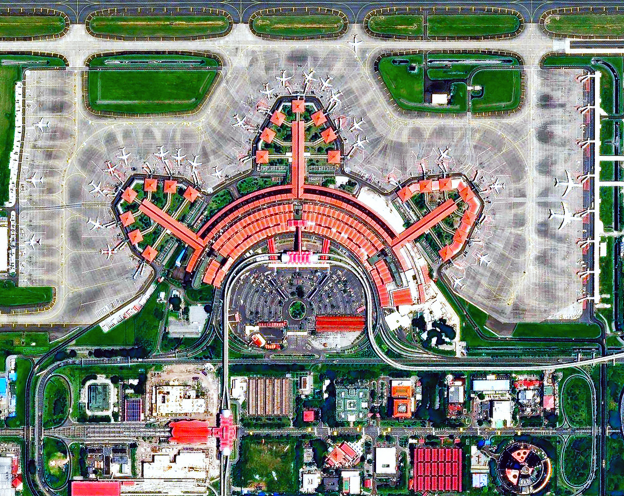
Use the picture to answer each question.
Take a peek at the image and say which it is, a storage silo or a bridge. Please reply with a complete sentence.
The one in the frame is a bridge.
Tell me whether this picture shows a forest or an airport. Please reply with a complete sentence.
The area seen from above is an airport.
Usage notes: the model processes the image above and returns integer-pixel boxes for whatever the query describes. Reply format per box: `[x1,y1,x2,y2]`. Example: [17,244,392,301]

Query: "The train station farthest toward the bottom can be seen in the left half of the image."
[212,408,236,457]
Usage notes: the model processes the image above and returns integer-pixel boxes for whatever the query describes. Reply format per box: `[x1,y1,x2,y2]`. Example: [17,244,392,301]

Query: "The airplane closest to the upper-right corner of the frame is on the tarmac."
[555,171,582,196]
